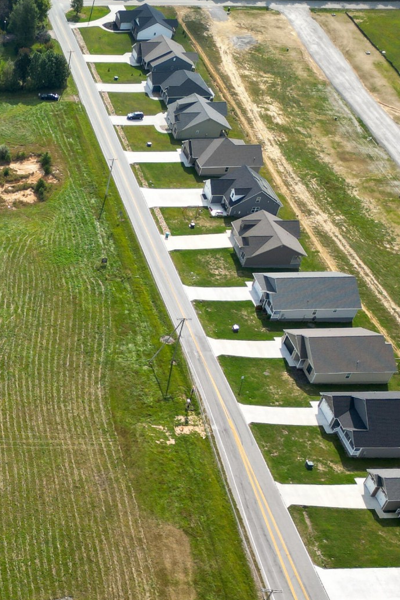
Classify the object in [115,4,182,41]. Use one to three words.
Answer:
house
